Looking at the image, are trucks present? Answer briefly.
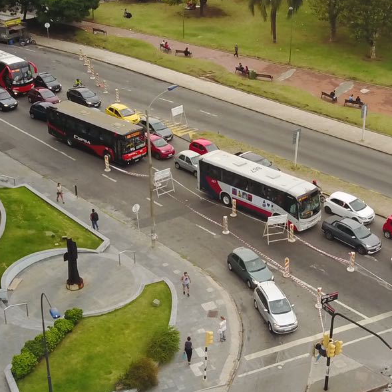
Yes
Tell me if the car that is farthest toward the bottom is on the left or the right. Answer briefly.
right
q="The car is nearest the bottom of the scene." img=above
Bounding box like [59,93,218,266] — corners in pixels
[247,278,305,338]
